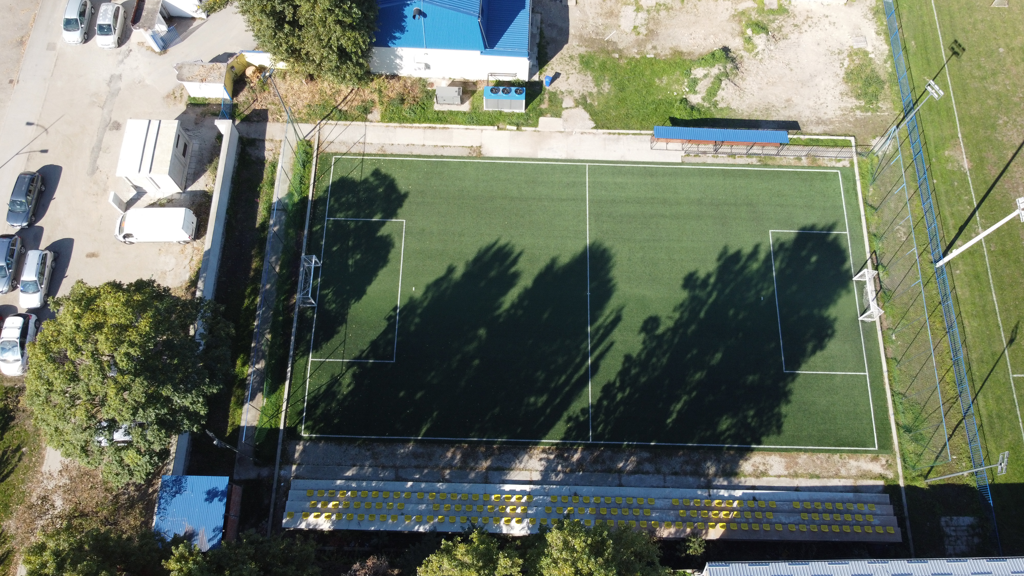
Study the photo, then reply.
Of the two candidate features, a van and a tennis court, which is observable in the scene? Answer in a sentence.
The image shows a van.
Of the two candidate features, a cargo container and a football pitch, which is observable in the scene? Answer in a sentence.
This aerial view contains a football pitch.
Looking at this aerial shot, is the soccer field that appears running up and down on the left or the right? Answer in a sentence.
The soccer field that appears running up and down appears in the right half of the scene.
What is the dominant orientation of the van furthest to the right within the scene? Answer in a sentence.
The van furthest to the right runs from side to side in the image.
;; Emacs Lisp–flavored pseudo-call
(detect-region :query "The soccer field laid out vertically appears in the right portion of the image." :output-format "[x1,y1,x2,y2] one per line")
[890,0,1024,563]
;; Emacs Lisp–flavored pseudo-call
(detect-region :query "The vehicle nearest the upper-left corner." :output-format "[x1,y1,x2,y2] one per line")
[57,0,93,45]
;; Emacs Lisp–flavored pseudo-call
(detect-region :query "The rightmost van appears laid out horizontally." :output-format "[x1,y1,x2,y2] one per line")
[113,209,197,245]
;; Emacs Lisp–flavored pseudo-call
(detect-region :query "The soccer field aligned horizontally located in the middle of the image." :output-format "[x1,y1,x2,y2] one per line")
[284,153,891,459]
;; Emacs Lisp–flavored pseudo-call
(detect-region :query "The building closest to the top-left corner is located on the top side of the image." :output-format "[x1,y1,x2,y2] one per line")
[128,0,171,47]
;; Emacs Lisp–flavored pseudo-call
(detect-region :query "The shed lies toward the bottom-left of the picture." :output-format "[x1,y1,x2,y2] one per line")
[151,475,243,551]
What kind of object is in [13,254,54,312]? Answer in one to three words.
car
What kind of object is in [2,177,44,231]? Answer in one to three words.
car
